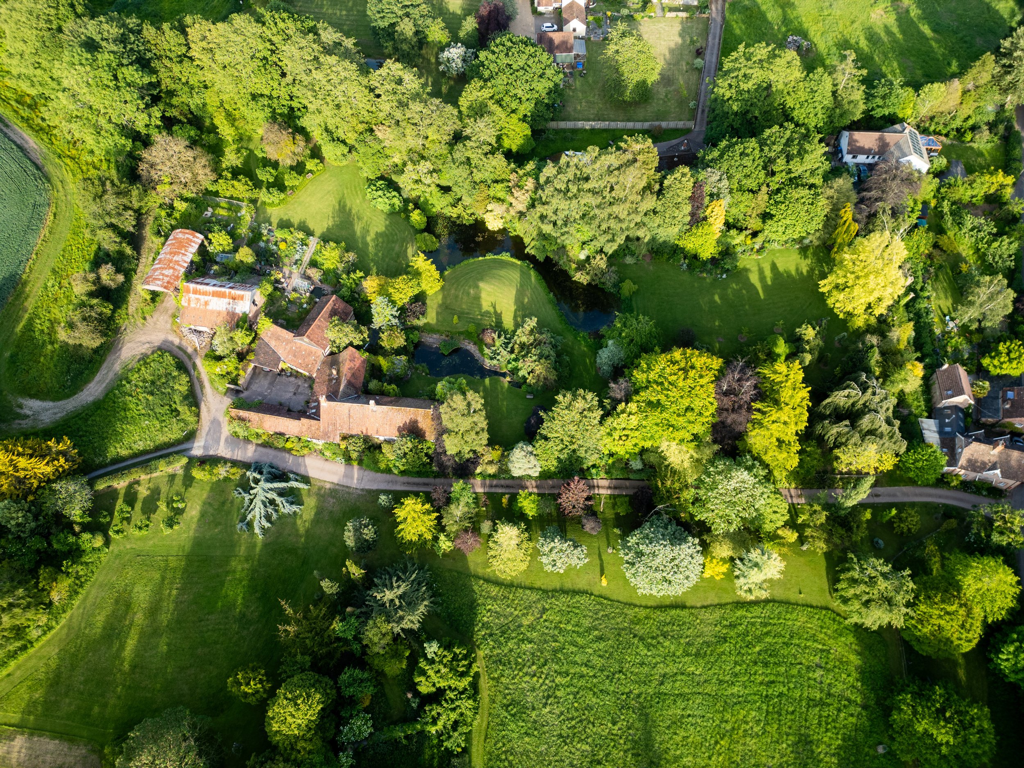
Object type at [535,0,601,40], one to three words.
house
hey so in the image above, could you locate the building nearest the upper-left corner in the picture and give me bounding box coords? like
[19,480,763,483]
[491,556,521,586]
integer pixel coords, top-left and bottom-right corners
[141,229,210,302]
